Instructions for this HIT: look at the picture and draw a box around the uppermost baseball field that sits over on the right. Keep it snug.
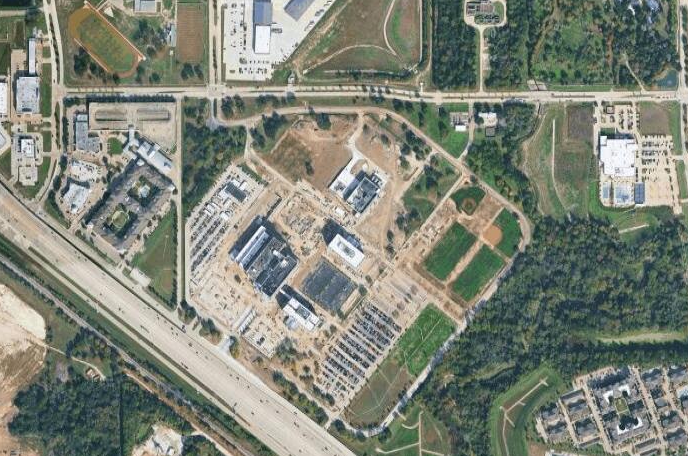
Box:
[451,187,486,221]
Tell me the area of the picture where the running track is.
top left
